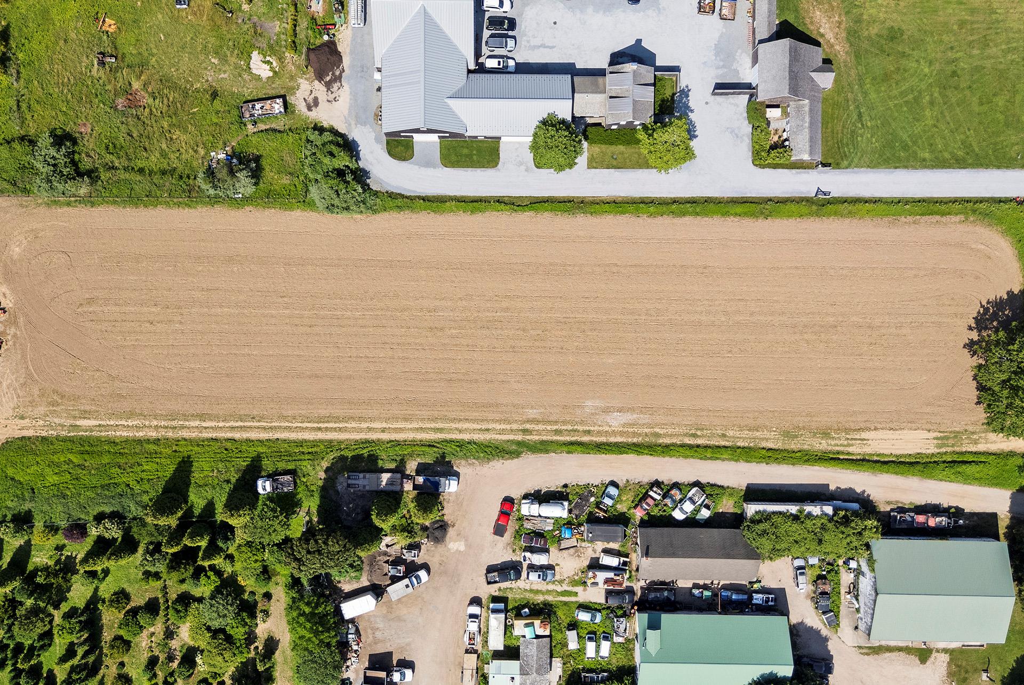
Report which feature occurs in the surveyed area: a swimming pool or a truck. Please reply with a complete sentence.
It is a truck that can be seen here.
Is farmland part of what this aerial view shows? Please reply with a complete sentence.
Yes, there's farmland in this view.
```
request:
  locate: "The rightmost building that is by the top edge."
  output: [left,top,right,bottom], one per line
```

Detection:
[747,0,836,166]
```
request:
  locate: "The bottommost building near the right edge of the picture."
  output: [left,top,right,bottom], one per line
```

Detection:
[856,532,1016,643]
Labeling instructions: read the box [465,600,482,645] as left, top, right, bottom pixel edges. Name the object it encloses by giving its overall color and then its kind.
white vehicle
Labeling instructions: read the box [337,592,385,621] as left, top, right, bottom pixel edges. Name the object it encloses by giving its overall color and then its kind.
white trailer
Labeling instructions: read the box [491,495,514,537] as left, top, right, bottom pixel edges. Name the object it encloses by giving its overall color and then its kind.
red truck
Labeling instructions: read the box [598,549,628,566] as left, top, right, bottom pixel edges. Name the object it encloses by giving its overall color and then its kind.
white vehicle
